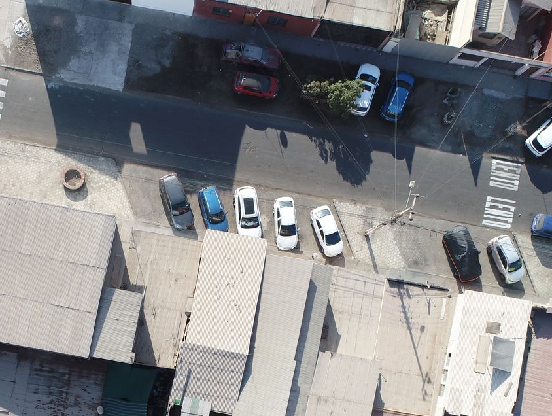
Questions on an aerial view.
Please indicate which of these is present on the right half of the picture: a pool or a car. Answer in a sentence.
There is a car on the right half of the picture.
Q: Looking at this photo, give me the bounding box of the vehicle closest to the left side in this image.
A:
[157,172,193,231]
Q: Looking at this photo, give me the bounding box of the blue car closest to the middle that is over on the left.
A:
[196,185,229,232]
